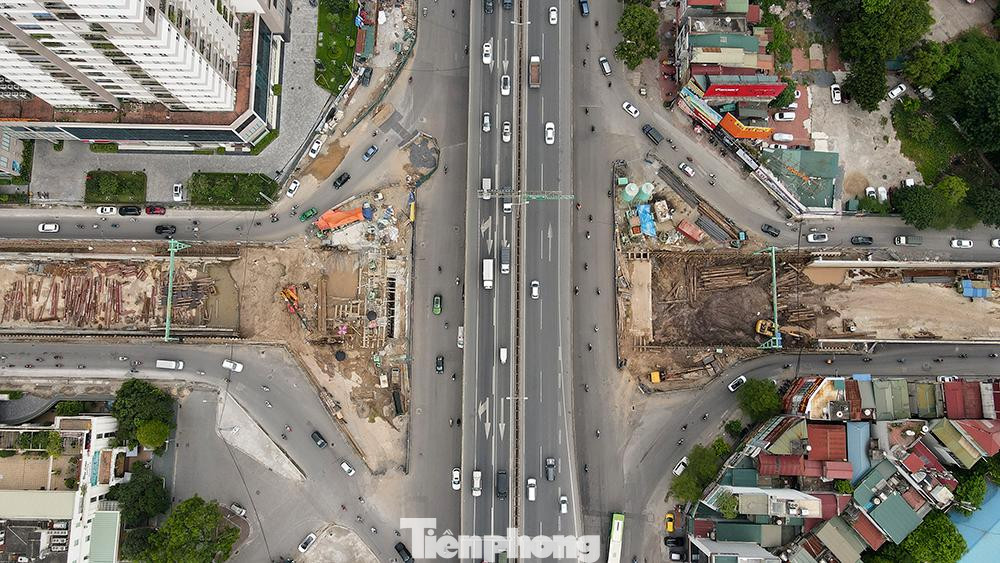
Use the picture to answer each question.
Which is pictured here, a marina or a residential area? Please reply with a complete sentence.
What you see here is a residential area.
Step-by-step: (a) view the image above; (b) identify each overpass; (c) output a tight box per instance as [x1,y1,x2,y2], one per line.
[460,0,586,563]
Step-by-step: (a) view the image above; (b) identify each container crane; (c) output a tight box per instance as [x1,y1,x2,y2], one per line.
[746,245,785,342]
[165,238,202,341]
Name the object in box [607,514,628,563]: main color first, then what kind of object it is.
white bus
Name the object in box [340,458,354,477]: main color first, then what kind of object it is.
white car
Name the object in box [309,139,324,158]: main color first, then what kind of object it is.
white car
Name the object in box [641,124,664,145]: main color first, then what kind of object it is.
gray truck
